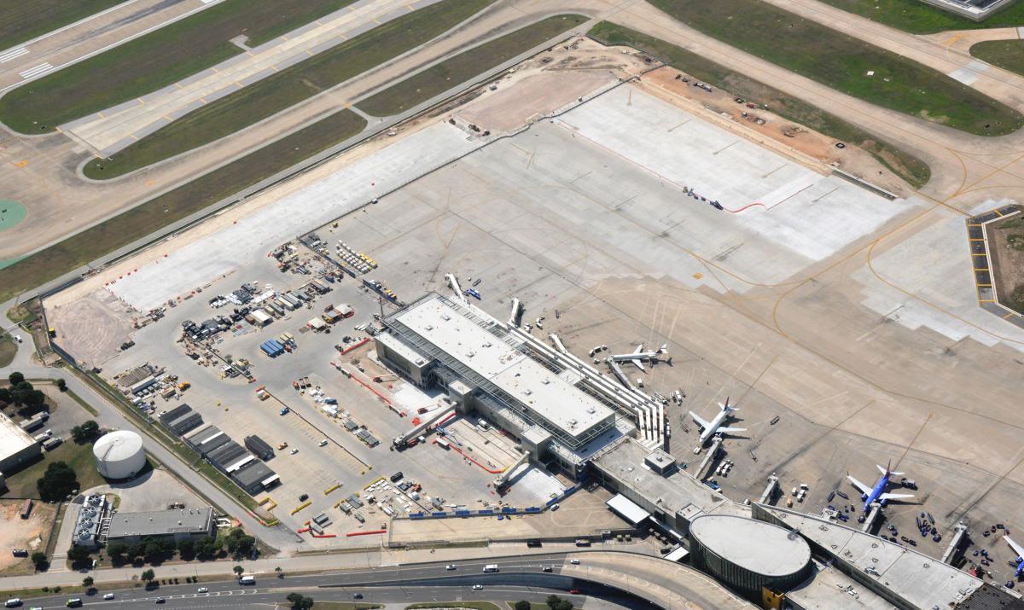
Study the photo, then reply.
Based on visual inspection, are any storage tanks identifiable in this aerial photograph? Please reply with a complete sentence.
Yes, a storage tank can be made out from above.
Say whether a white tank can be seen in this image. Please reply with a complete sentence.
Yes, looking at the shot, I can spot a white tank.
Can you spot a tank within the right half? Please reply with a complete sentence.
No, I can find no tank within the right half.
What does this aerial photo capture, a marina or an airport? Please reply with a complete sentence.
What you see here is an airport.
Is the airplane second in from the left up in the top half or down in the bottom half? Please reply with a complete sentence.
The airplane second in from the left is in the bottom half of the image.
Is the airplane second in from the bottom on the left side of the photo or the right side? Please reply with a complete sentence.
It is on the right.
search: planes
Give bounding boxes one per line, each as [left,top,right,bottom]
[998,529,1024,576]
[604,337,669,368]
[690,394,749,443]
[848,460,916,512]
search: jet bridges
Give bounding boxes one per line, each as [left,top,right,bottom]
[692,440,720,480]
[445,275,471,307]
[506,299,521,325]
[939,526,968,566]
[394,400,460,448]
[494,450,531,487]
[756,476,778,505]
[605,359,633,391]
[859,504,881,534]
[549,332,568,355]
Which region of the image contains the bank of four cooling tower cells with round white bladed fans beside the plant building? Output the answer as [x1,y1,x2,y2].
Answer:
[71,495,109,551]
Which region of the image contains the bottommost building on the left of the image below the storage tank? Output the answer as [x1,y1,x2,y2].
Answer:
[108,507,217,544]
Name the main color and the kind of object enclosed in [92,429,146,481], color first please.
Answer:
white storage tank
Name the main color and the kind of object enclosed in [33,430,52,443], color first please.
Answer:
white vehicle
